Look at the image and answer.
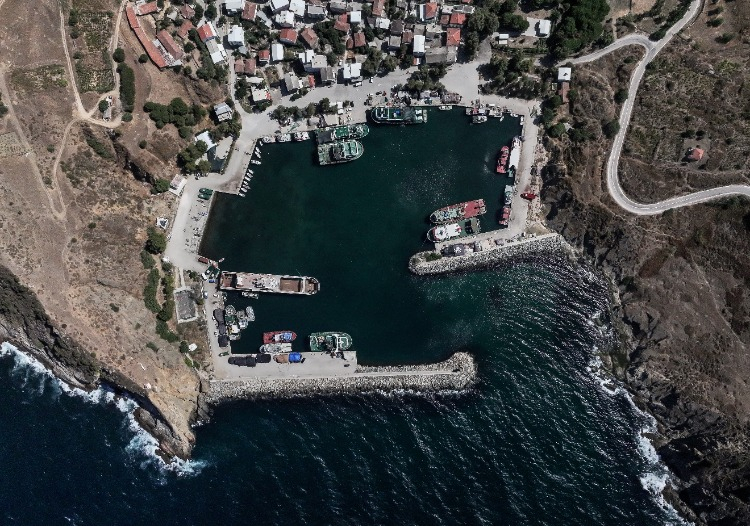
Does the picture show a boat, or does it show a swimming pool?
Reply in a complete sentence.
It is a boat that can be seen here.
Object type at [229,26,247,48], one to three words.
house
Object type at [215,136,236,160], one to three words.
building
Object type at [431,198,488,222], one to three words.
boat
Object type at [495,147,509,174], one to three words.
boat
